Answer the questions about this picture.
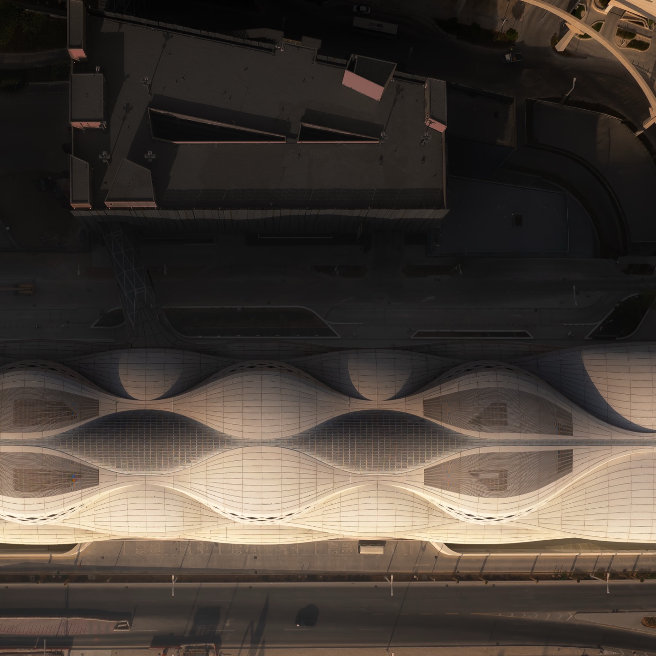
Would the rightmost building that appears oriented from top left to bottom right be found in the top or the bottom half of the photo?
top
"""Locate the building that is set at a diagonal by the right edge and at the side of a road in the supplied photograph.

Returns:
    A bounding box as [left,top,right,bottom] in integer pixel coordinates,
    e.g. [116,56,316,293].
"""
[519,96,656,253]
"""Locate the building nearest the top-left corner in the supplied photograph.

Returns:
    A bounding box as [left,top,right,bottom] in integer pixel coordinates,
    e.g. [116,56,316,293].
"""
[67,0,449,234]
